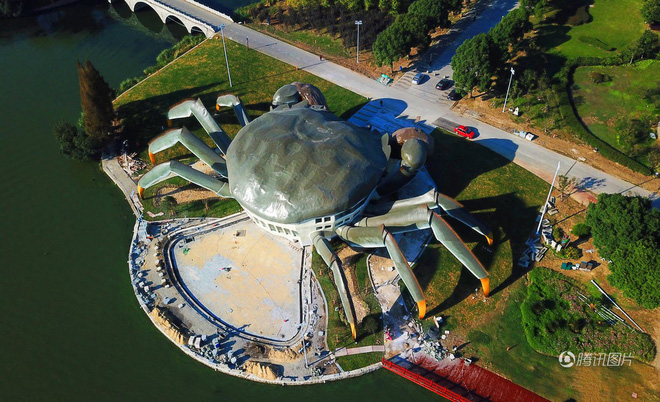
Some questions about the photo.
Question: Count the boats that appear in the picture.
0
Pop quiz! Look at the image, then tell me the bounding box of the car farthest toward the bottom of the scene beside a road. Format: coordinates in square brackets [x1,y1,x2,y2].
[454,122,476,138]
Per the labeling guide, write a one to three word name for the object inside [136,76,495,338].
building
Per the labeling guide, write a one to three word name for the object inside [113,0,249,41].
bridge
